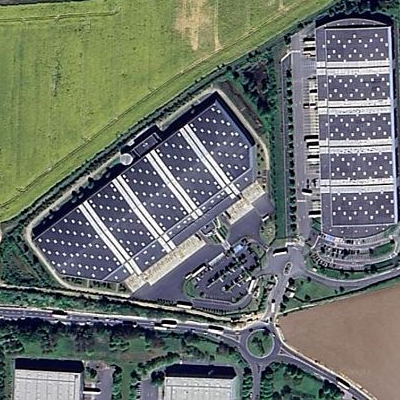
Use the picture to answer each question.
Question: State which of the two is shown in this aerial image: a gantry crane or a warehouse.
warehouse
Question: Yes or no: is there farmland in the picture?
Yes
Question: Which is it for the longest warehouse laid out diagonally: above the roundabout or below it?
above it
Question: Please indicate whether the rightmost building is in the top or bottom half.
top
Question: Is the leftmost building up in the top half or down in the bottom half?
bottom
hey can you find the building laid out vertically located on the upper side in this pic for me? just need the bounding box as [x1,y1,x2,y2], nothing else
[316,17,400,238]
